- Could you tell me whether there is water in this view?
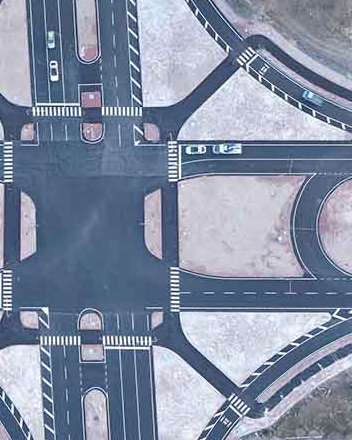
No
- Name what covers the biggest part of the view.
paved ground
